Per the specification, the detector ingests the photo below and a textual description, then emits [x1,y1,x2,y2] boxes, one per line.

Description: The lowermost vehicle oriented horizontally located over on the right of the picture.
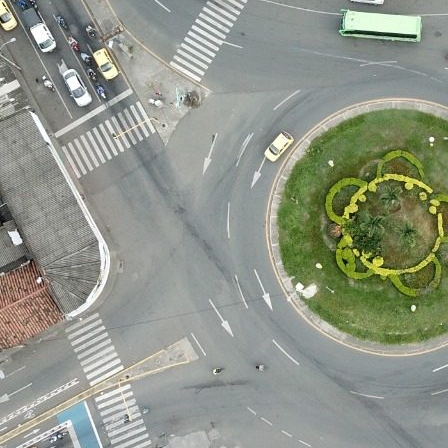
[336,7,421,40]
